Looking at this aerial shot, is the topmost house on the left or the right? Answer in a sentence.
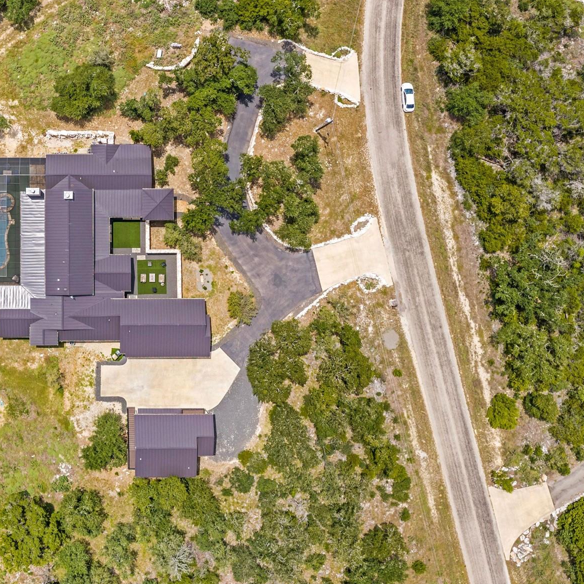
The topmost house sits on the left side.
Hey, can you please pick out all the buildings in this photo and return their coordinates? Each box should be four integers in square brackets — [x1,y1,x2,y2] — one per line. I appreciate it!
[134,408,214,479]
[0,144,210,358]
